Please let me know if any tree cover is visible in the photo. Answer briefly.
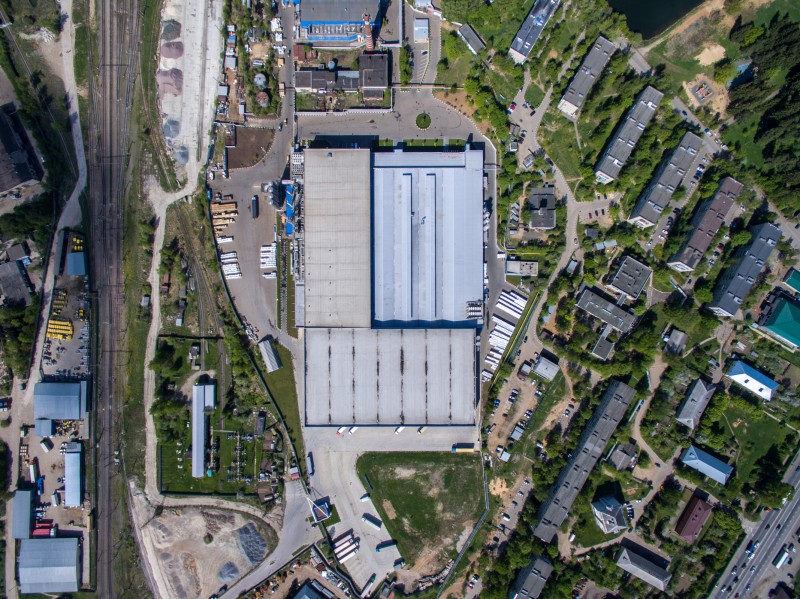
Yes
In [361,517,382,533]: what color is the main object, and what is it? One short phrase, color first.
white vehicle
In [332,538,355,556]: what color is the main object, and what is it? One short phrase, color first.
white vehicle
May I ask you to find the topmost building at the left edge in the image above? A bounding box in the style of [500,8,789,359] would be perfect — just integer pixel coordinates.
[0,103,55,205]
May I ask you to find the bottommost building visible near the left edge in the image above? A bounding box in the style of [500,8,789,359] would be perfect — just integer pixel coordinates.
[17,533,85,593]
